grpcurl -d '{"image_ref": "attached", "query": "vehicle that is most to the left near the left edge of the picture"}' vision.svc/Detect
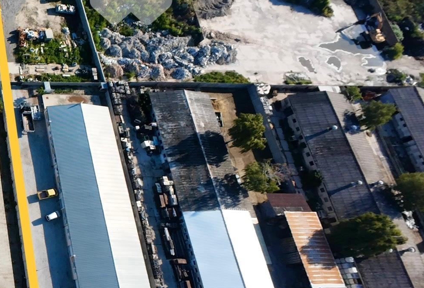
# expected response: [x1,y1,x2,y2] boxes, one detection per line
[20,107,37,130]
